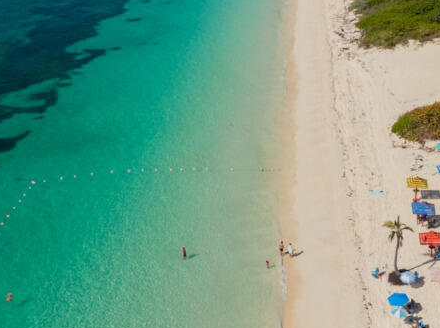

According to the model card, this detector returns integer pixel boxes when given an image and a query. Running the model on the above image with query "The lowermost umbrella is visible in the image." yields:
[391,301,414,324]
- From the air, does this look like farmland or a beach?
beach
